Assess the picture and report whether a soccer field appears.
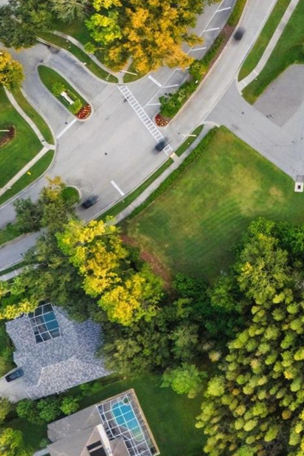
No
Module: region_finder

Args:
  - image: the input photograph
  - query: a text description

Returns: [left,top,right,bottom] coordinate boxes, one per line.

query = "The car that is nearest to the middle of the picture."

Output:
[80,194,99,209]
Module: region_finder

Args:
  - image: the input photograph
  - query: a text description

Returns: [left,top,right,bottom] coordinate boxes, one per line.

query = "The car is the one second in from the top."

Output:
[150,137,169,154]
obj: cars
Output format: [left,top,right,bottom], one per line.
[3,366,24,381]
[231,25,246,43]
[150,137,169,154]
[80,194,99,209]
